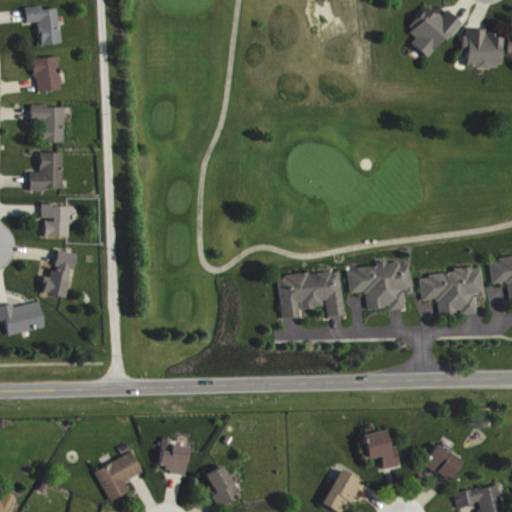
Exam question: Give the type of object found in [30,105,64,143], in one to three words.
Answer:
house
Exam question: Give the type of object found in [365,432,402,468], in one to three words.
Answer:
house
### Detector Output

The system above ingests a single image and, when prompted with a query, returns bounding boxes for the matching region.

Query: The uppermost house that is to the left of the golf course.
[24,4,62,46]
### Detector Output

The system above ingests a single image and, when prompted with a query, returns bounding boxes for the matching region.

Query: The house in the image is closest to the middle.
[278,271,346,319]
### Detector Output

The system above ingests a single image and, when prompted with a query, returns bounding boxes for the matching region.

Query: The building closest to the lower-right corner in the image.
[456,484,506,512]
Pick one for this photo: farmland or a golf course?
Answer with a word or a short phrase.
golf course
